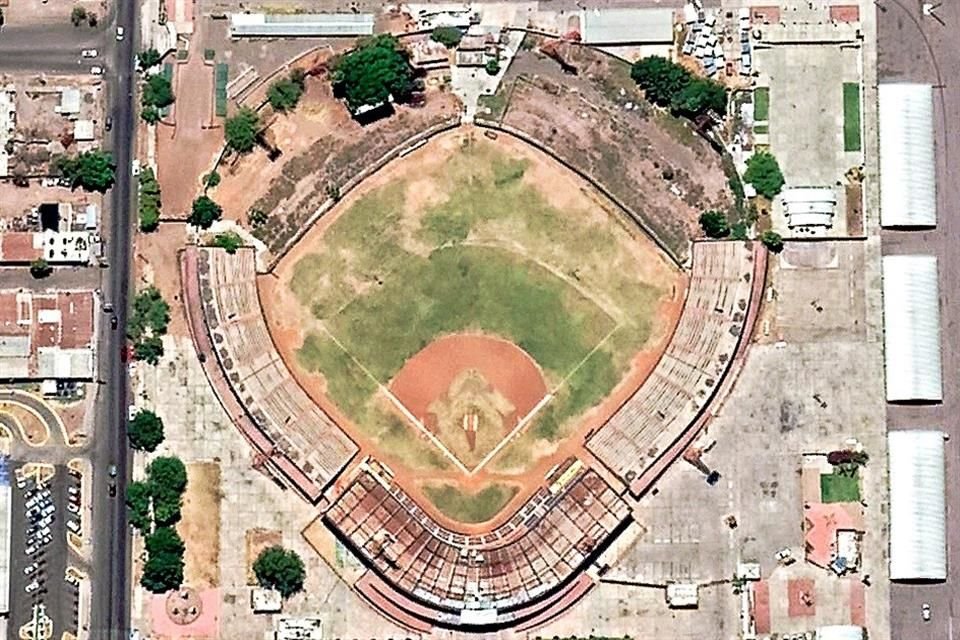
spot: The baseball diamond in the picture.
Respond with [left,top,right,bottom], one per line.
[259,123,688,535]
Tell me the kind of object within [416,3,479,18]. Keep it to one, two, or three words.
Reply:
house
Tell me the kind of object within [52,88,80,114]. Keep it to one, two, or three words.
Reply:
house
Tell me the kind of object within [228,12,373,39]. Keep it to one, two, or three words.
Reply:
shed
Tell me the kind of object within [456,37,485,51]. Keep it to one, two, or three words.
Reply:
building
